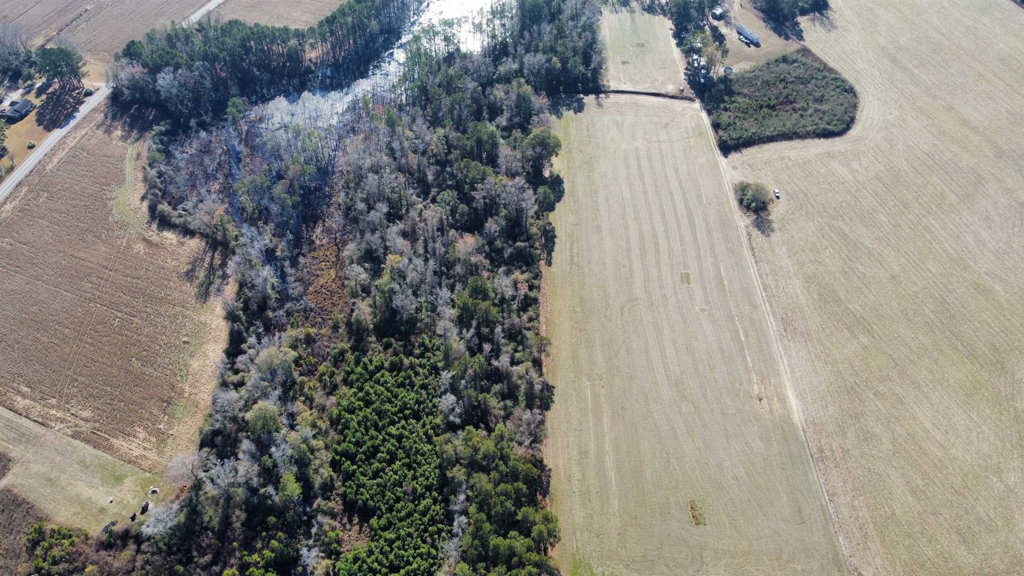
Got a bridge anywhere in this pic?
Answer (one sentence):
No, no bridge is visible in the scene.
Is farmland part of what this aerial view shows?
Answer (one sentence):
Yes, there is farmland in the image.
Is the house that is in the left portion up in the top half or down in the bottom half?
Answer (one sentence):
You can find the house that is in the left portion in the top half.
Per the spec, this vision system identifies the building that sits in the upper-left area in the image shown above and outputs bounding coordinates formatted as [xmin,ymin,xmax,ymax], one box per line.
[3,98,35,120]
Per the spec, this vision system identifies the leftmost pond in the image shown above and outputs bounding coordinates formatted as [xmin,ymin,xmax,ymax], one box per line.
[251,0,511,142]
